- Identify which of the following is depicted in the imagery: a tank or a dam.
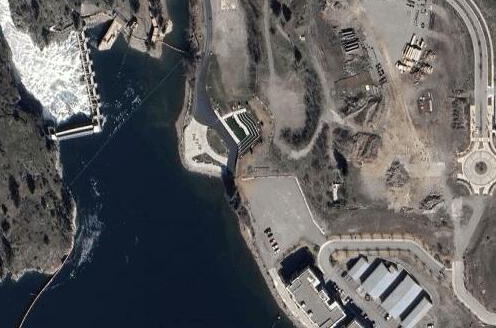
dam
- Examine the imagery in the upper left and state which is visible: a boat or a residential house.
residential house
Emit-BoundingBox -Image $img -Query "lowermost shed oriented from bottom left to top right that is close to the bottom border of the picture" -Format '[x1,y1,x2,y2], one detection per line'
[401,298,433,328]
